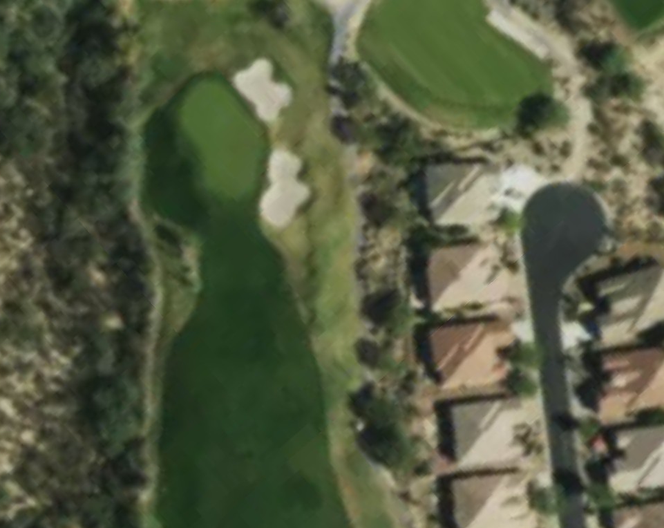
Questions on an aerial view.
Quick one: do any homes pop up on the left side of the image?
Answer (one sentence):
No, no home appears on the left side of the image.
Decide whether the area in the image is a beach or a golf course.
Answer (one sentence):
The picture captures a golf course.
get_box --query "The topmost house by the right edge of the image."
[593,267,664,343]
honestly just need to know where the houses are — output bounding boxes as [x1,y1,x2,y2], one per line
[453,475,536,528]
[431,323,514,389]
[611,429,664,492]
[598,349,664,420]
[449,402,528,466]
[615,505,664,528]
[424,164,499,230]
[426,243,507,314]
[593,267,664,343]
